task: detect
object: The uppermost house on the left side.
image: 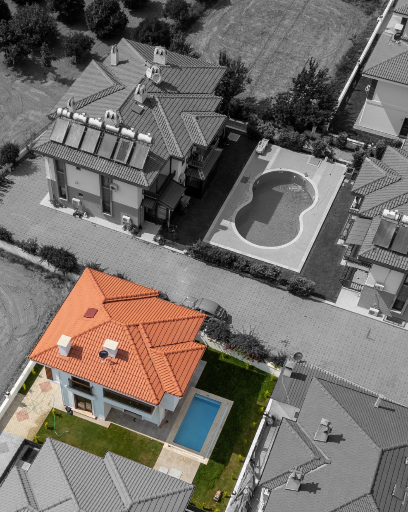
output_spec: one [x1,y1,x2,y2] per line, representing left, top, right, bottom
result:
[33,38,236,242]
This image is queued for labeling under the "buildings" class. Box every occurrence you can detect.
[256,375,408,512]
[33,38,236,242]
[28,265,208,429]
[0,436,196,512]
[333,133,408,330]
[346,23,408,141]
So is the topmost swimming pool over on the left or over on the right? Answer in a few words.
right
